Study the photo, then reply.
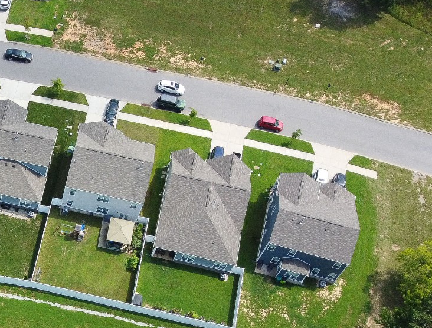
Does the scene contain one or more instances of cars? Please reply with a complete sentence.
Yes, the photo shows a car.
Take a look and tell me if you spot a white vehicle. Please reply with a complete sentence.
Yes, a white vehicle is visible in the scene.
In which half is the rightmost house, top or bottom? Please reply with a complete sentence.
The rightmost house sits in the bottom half of the picture.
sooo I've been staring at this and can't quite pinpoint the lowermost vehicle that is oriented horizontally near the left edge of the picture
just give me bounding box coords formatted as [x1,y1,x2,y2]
[5,47,34,63]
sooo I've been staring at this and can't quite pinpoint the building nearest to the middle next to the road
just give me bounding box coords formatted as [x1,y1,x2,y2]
[151,144,251,274]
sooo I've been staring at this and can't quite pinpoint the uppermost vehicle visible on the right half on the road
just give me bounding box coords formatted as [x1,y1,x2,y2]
[256,113,286,132]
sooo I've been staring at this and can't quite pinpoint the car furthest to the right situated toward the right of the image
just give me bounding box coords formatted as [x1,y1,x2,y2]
[333,170,349,186]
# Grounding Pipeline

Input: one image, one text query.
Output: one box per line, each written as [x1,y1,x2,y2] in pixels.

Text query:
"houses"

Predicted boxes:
[61,120,155,224]
[256,173,360,287]
[151,144,251,274]
[0,99,59,212]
